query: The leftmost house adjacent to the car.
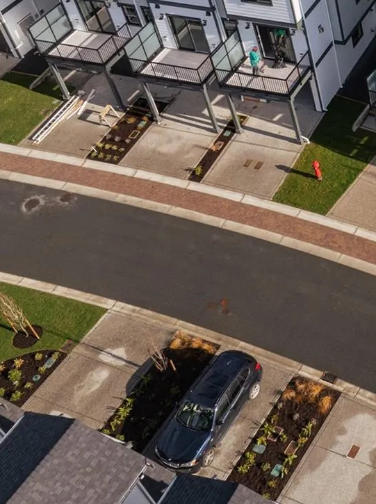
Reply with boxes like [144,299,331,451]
[0,419,168,504]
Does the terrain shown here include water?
No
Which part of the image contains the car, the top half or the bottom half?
bottom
